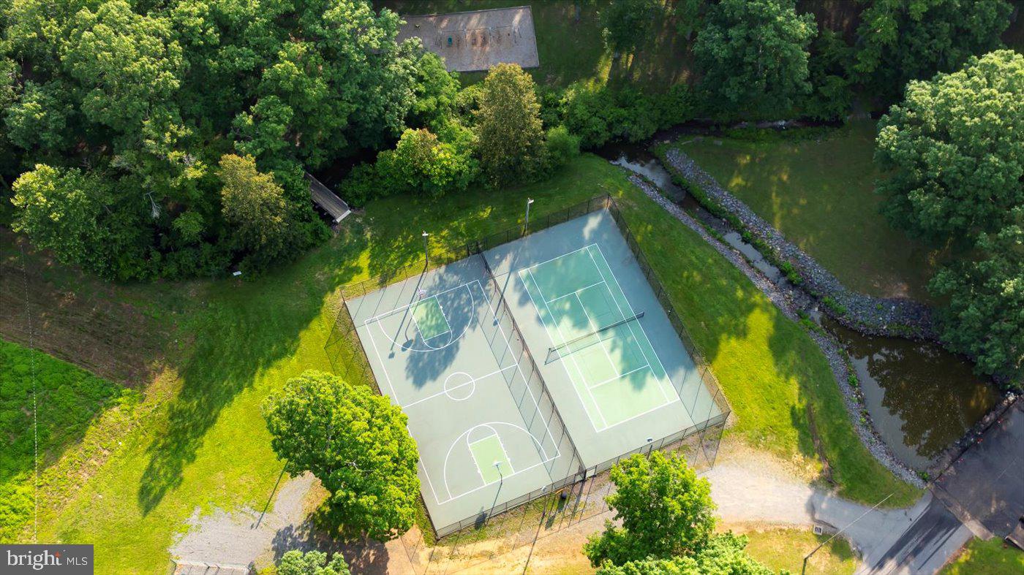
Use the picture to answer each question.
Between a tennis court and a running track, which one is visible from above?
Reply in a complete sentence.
I can see a tennis court in this picture.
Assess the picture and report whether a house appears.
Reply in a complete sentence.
No, the picture doesn't show any house.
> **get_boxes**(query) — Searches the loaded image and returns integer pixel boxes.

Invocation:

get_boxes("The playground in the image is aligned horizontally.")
[375,5,540,77]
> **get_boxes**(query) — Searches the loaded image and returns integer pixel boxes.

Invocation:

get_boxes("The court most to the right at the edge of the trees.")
[483,208,724,477]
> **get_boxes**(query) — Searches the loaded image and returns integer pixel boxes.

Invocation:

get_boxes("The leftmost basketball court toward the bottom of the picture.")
[347,252,588,536]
